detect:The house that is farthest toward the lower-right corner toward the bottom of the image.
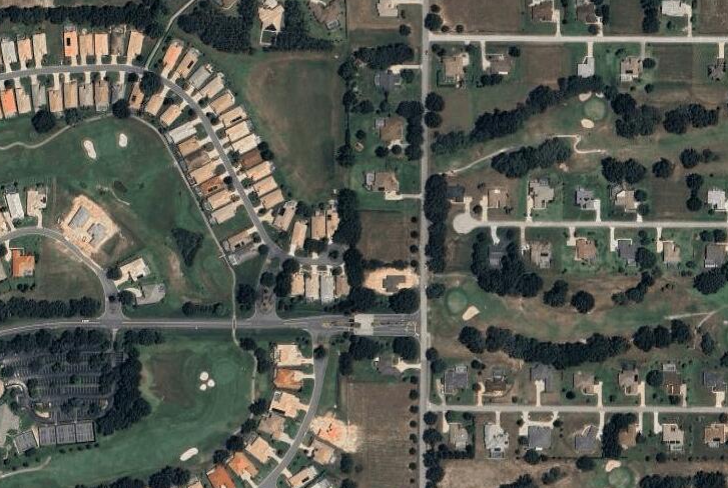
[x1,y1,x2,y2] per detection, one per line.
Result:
[705,427,725,448]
